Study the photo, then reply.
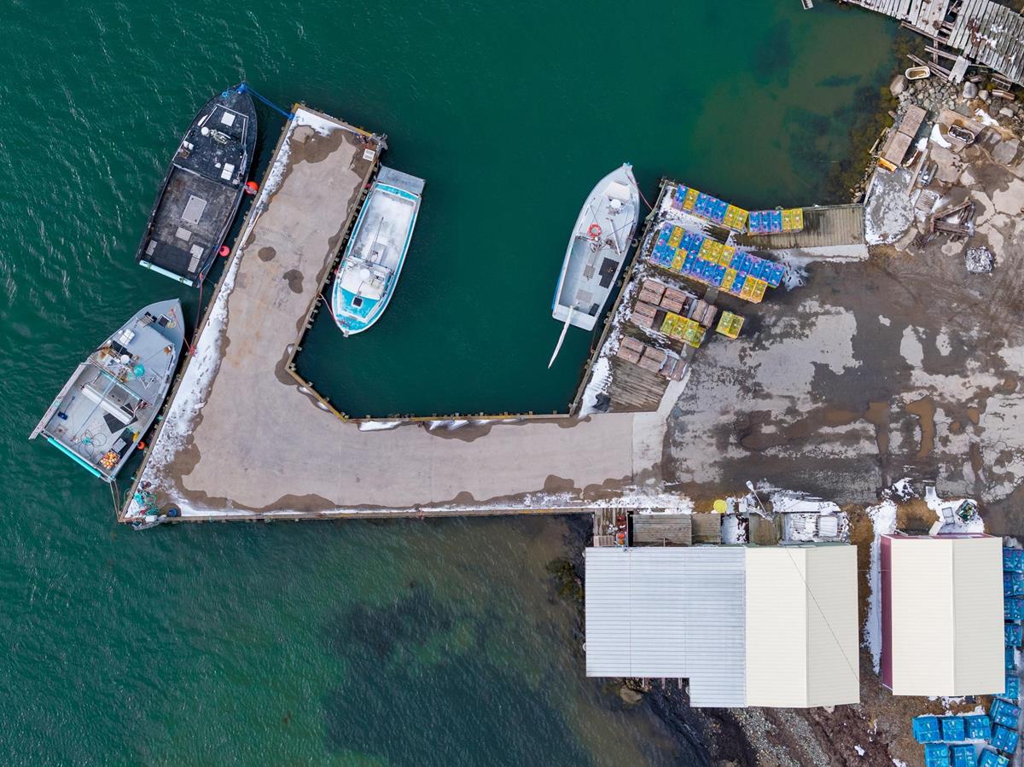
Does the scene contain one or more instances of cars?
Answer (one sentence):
No, there isn't any car down there.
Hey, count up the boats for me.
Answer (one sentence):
The picture shows 4 boats.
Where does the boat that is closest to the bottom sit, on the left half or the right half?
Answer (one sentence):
The boat that is closest to the bottom is on the left side of the image.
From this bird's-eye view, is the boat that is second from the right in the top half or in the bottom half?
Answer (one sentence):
Seen from above, the boat that is second from the right lies in the top half of the view.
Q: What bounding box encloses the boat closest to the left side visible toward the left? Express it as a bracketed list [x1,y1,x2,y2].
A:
[28,298,185,484]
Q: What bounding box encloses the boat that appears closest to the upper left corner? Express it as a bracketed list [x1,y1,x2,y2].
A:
[138,82,256,287]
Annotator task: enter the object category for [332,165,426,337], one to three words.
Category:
boat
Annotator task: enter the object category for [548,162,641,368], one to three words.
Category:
boat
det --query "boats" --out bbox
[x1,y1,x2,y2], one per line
[138,82,256,287]
[548,162,641,368]
[332,165,426,337]
[28,298,185,484]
